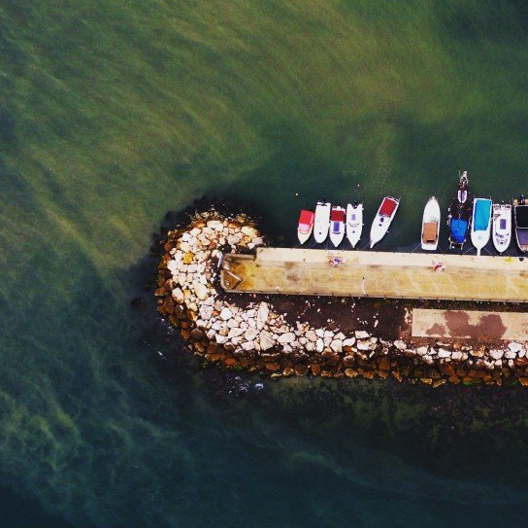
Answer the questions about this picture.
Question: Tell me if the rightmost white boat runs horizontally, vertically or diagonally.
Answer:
vertically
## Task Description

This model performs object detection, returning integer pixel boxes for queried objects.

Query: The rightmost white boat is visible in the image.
[492,202,512,255]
